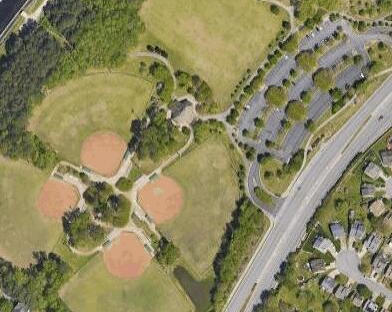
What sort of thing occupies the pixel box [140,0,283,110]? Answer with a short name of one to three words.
sports field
